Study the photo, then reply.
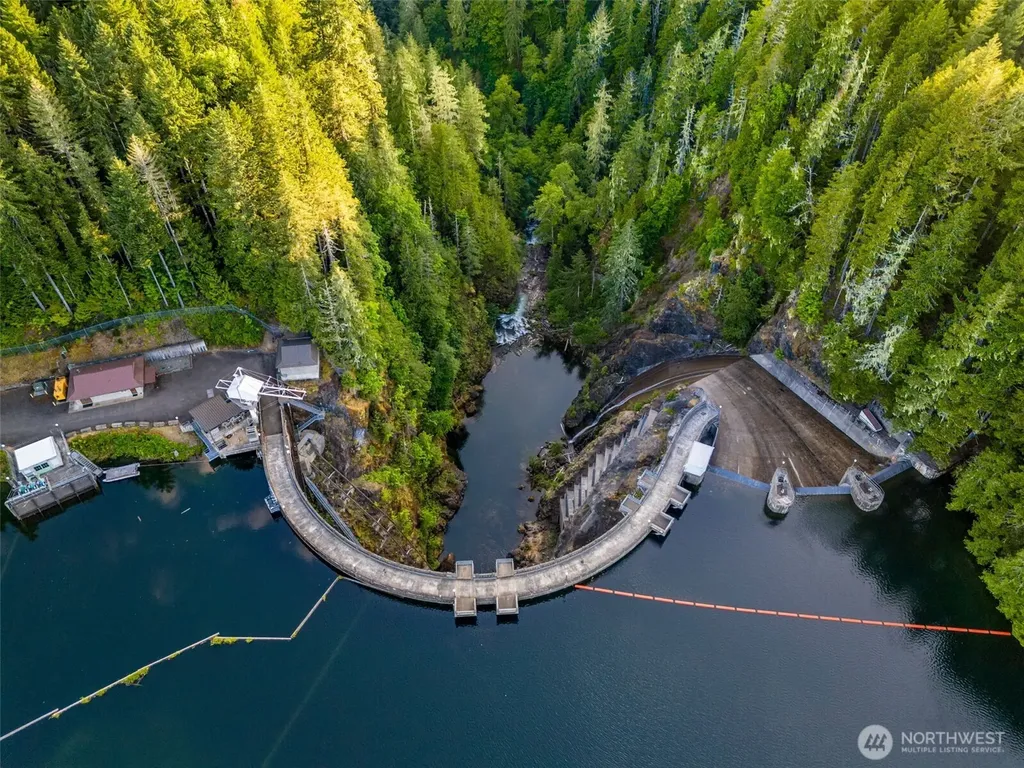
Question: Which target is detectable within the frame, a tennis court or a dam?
dam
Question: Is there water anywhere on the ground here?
Yes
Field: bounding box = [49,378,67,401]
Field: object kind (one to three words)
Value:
vehicle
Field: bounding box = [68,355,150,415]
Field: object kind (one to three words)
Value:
building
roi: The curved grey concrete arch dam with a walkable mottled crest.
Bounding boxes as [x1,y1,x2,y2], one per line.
[260,392,714,622]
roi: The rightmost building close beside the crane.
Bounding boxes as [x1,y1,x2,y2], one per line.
[274,340,321,384]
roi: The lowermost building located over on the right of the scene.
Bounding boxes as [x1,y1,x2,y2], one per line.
[682,440,714,494]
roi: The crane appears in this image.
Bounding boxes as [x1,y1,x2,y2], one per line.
[211,363,308,426]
